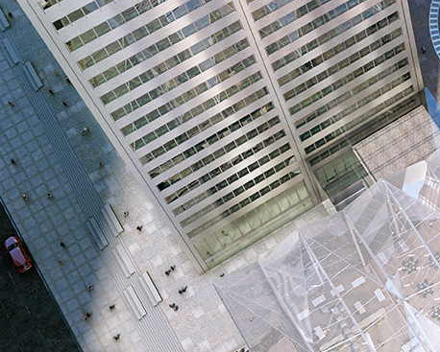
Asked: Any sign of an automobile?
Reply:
Yes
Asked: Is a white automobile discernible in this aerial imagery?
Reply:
No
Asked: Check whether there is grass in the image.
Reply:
No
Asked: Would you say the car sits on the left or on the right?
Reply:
left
